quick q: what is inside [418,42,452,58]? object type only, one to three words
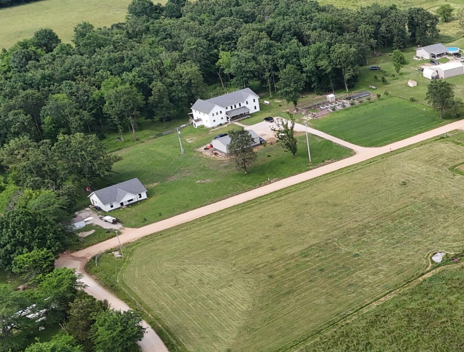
house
